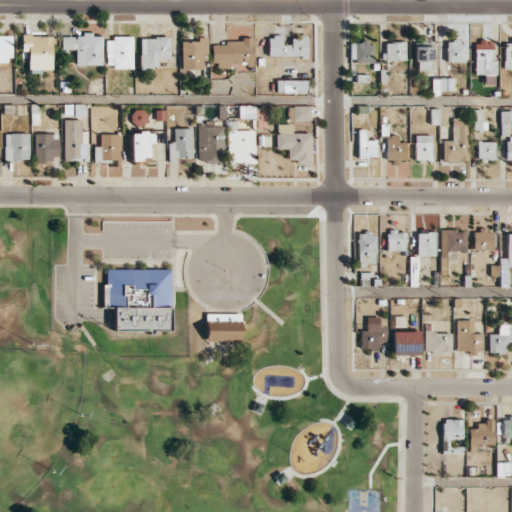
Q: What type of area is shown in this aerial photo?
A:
residential area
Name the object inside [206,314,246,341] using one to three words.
building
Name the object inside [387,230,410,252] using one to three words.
house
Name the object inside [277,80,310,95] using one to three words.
shed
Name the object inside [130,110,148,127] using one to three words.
gazebo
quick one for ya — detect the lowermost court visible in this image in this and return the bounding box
[348,490,380,512]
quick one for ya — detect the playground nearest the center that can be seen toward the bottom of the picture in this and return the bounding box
[250,364,308,400]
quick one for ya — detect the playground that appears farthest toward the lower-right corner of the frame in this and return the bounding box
[290,422,341,477]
